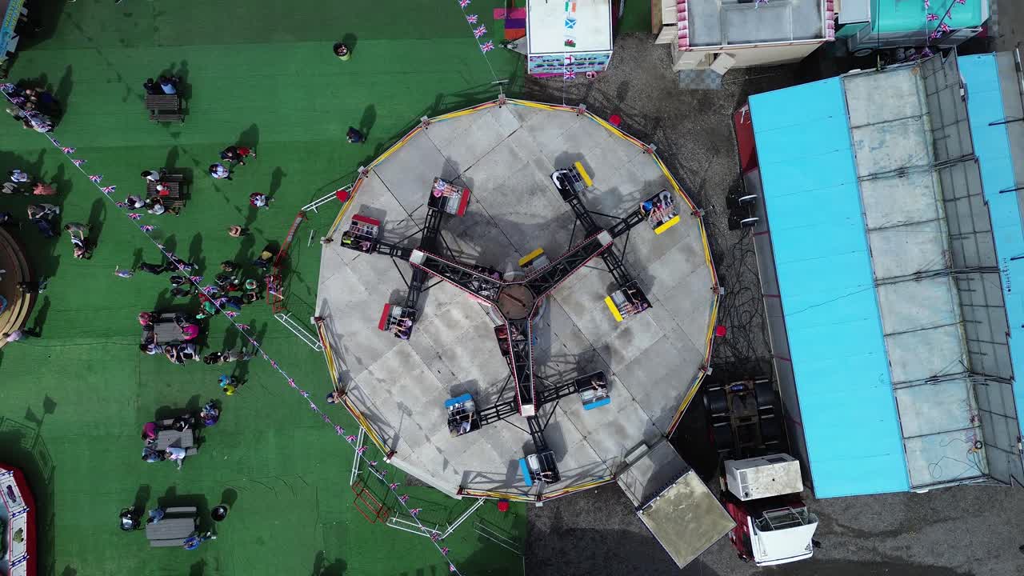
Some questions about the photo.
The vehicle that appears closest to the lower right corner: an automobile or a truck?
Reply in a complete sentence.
The vehicle that appears closest to the lower right corner appears to be a truck.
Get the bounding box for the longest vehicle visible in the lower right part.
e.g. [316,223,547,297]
[705,370,820,567]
